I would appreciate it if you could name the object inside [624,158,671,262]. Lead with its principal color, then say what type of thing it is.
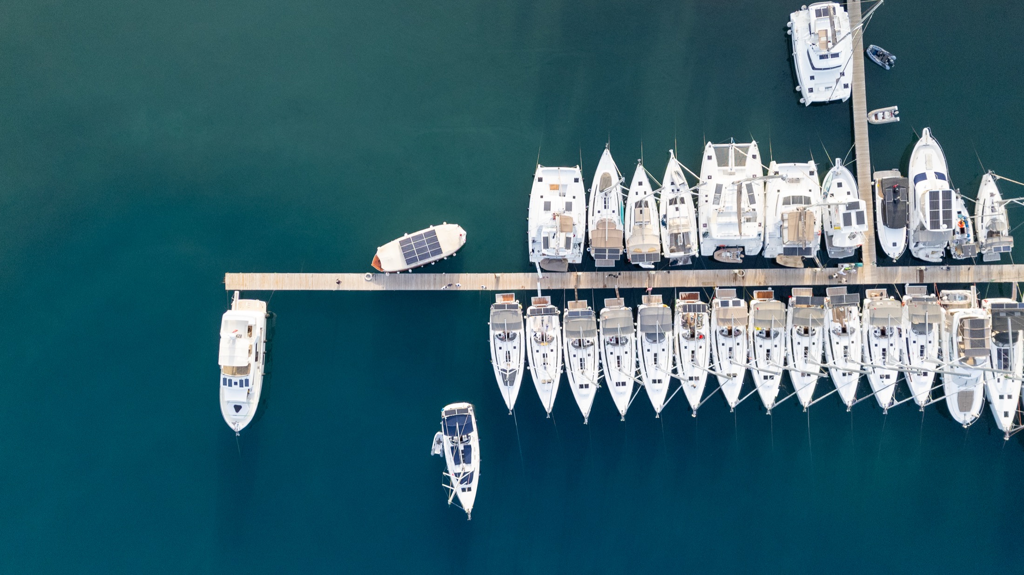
white boat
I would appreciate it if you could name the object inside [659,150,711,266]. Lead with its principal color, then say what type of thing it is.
white boat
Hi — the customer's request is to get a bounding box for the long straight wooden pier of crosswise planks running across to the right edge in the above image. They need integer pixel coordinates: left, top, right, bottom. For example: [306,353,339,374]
[226,264,1024,291]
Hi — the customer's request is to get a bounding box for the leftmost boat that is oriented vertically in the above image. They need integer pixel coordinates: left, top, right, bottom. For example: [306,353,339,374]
[218,300,267,437]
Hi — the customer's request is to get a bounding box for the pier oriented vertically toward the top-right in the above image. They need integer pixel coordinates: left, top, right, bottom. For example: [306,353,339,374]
[846,0,876,267]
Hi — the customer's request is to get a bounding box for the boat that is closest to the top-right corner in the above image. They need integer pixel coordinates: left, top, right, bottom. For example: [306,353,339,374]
[868,44,898,69]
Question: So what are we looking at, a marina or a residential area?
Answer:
marina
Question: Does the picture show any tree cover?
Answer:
No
